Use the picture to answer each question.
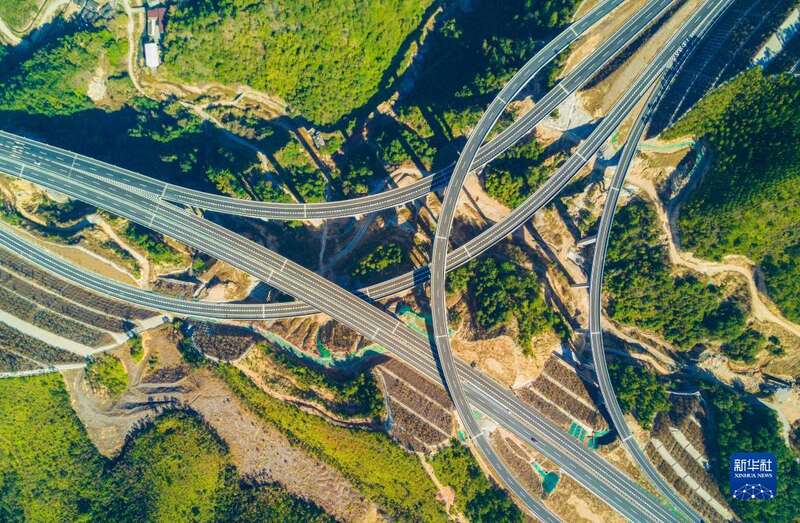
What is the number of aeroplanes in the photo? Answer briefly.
0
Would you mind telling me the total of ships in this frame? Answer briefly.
none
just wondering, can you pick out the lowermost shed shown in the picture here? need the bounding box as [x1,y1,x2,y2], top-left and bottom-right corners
[145,42,160,69]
